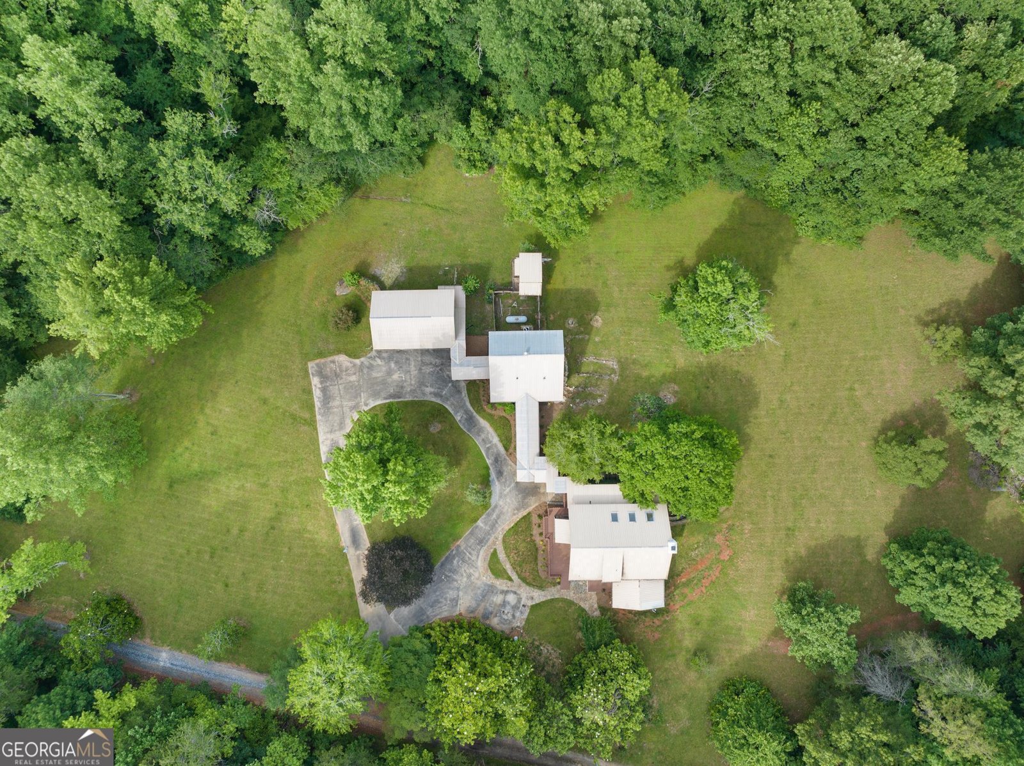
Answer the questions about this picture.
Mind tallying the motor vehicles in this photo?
zero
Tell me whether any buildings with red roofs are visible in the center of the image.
No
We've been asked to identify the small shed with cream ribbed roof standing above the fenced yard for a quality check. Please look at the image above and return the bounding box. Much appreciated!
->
[514,253,551,299]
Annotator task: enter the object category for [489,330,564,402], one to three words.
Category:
house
